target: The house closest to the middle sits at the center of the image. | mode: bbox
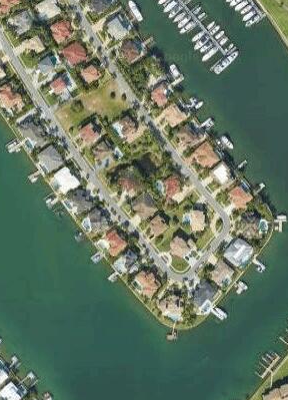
[129,191,158,220]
